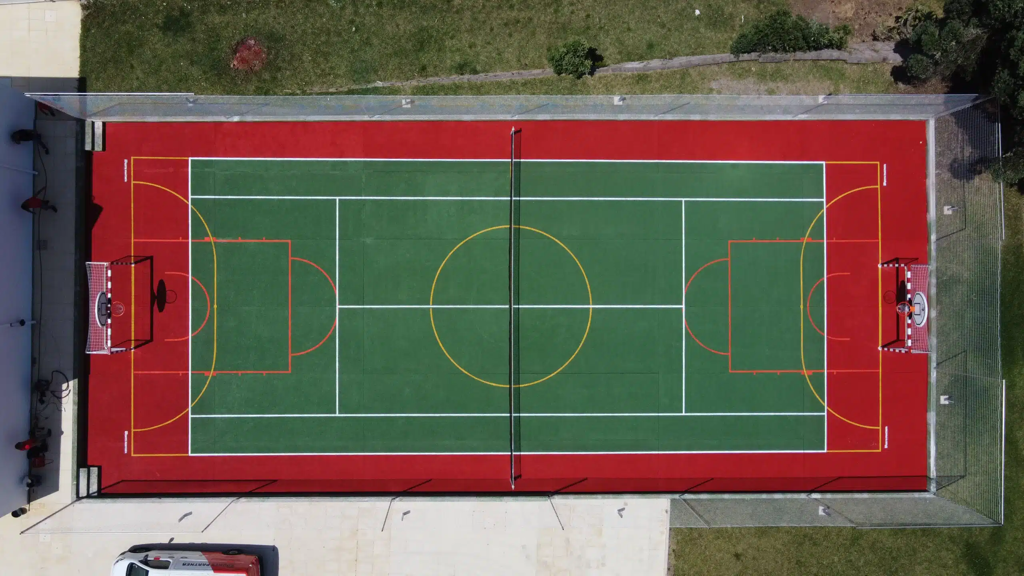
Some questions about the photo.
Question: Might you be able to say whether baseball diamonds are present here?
No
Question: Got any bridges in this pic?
No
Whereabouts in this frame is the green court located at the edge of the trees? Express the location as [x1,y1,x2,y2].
[84,119,927,496]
